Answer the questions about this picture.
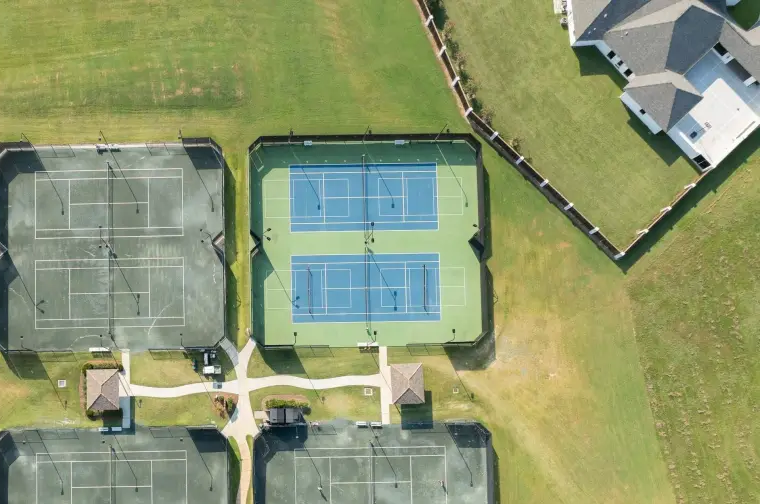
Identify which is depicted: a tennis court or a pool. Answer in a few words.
tennis court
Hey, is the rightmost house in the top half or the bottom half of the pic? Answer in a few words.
top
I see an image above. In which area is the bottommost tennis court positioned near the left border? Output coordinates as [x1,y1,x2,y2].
[0,426,231,504]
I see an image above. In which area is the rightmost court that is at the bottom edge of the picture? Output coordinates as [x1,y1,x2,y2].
[252,420,489,504]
